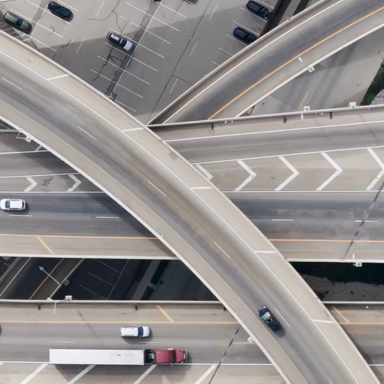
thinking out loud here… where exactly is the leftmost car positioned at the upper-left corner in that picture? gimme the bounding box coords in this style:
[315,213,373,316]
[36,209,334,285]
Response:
[0,9,31,34]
